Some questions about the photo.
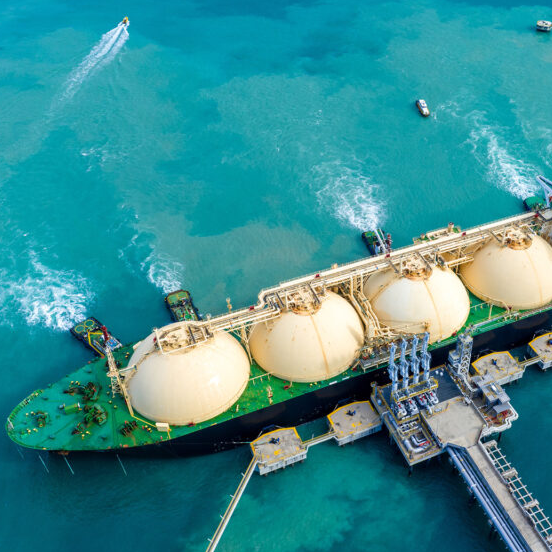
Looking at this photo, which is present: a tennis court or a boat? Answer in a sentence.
The image shows a boat.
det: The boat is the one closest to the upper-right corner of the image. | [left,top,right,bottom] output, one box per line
[413,96,431,115]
